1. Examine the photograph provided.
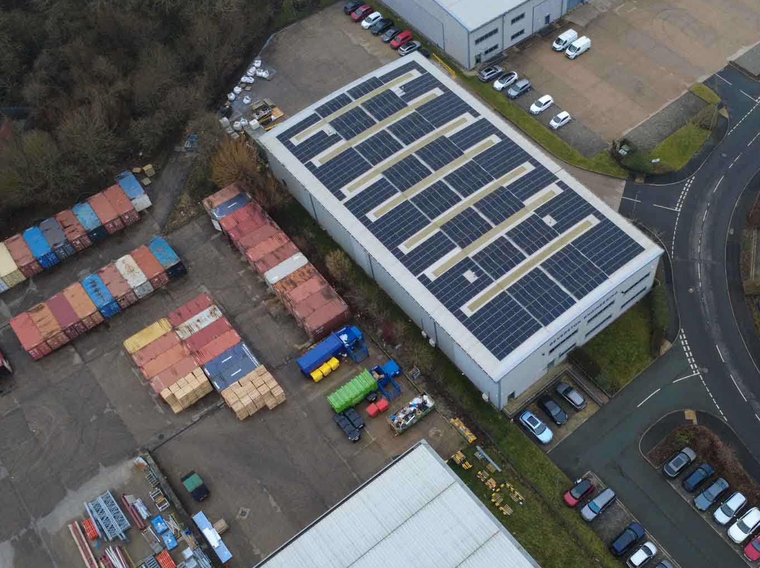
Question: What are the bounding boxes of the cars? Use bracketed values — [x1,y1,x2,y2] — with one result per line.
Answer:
[343,0,367,15]
[745,533,760,560]
[389,29,414,49]
[695,478,730,510]
[381,27,403,44]
[507,79,531,99]
[654,557,677,568]
[565,479,595,506]
[550,112,571,129]
[520,412,552,444]
[730,507,760,541]
[554,383,588,412]
[419,46,434,58]
[397,40,423,57]
[537,395,569,427]
[478,62,504,83]
[369,17,397,38]
[580,488,616,521]
[493,73,519,92]
[352,4,374,21]
[714,491,747,524]
[530,96,554,115]
[360,10,384,30]
[624,539,661,568]
[610,521,645,556]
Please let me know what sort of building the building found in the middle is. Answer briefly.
warehouse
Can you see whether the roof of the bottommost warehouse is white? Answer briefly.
Yes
